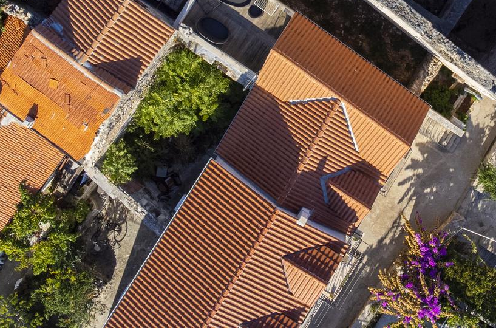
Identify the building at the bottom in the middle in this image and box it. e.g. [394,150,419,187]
[101,158,375,328]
